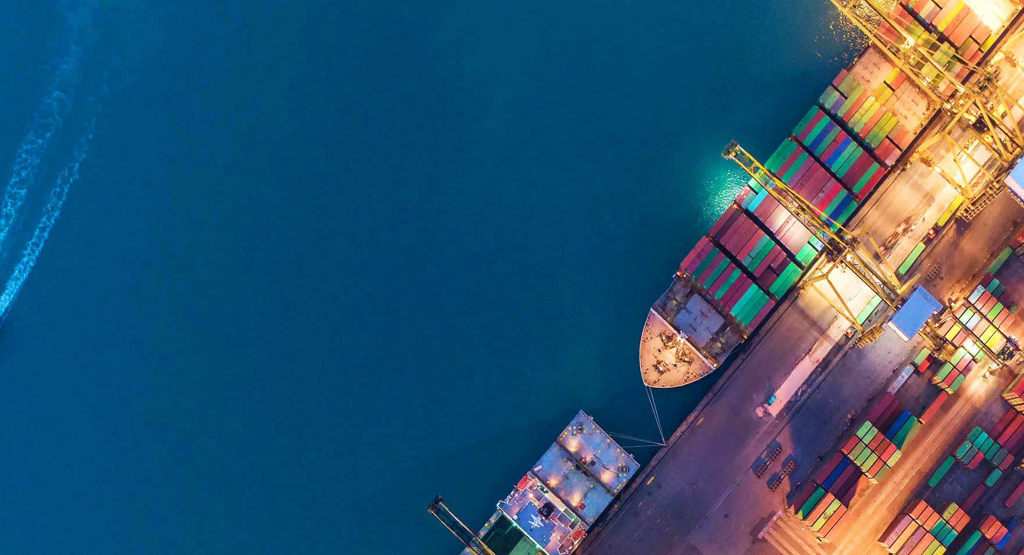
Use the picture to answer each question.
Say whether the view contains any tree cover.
No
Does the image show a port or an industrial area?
port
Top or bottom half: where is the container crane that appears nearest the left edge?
bottom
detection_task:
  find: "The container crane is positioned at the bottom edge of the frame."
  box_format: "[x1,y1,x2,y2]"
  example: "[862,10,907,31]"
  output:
[424,494,500,555]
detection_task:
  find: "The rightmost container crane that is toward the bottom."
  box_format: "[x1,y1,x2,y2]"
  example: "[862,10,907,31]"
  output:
[939,297,1023,373]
